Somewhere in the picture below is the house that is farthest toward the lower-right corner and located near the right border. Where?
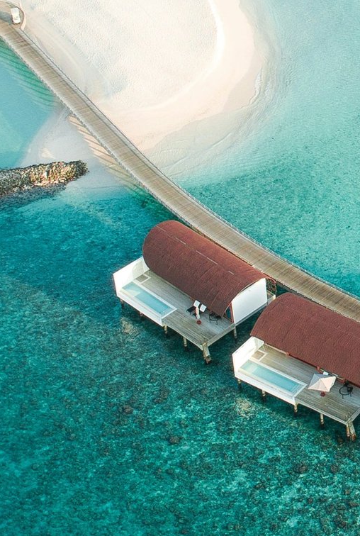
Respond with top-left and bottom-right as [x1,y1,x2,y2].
[233,293,360,447]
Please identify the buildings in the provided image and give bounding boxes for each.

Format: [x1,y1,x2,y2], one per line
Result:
[233,293,360,447]
[114,226,272,374]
